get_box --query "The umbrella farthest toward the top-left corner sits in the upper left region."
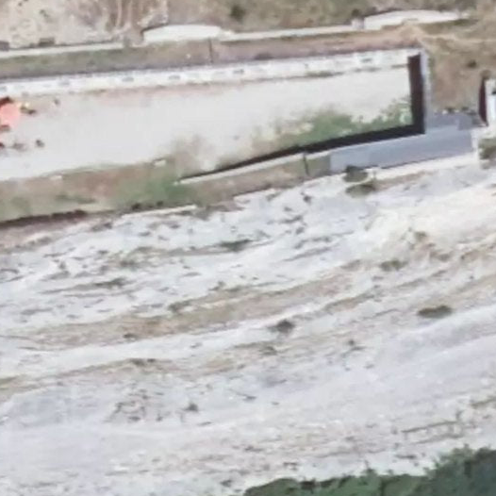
[0,100,20,125]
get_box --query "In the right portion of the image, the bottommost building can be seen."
[330,125,473,173]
